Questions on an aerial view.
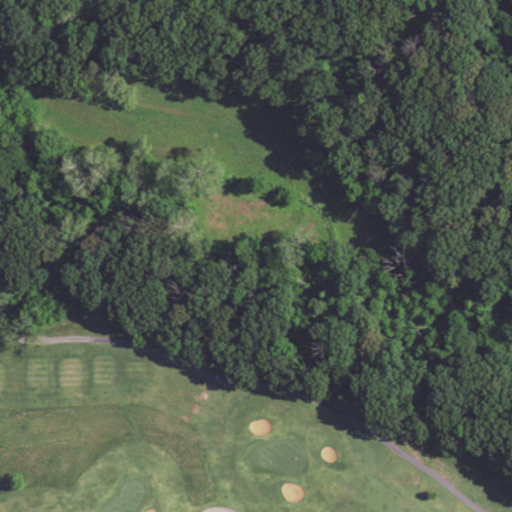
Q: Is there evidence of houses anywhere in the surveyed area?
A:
No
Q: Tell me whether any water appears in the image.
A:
No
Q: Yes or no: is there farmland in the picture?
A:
No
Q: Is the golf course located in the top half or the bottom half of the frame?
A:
bottom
